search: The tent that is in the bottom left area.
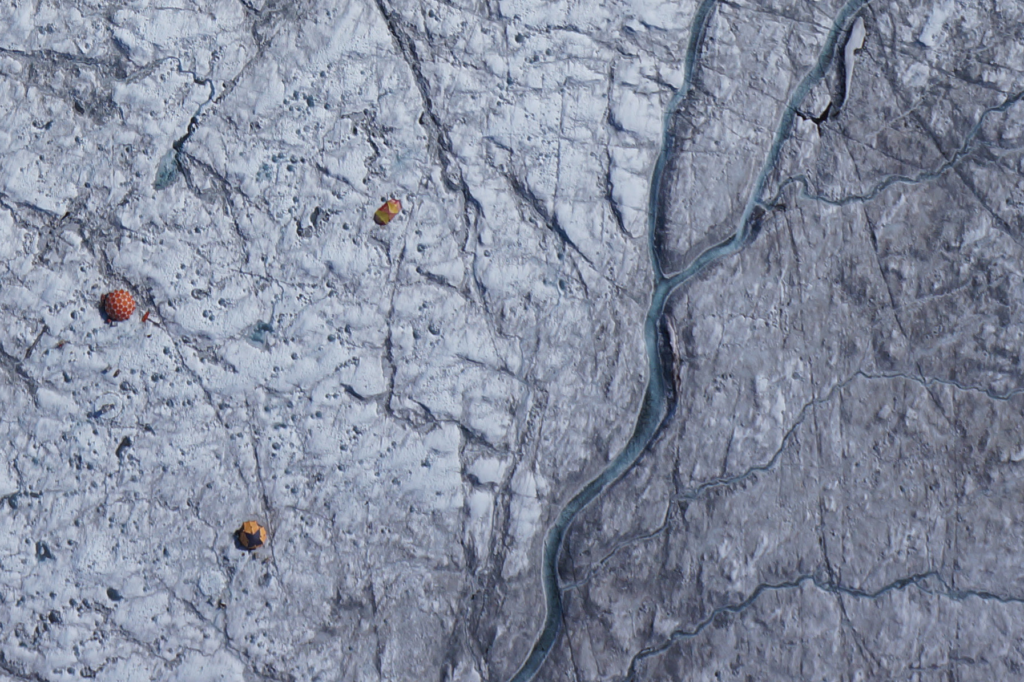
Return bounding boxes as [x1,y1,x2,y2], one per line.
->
[238,520,266,549]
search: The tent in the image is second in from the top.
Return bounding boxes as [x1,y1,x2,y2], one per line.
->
[103,287,137,322]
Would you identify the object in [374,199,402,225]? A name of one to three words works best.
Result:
tent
